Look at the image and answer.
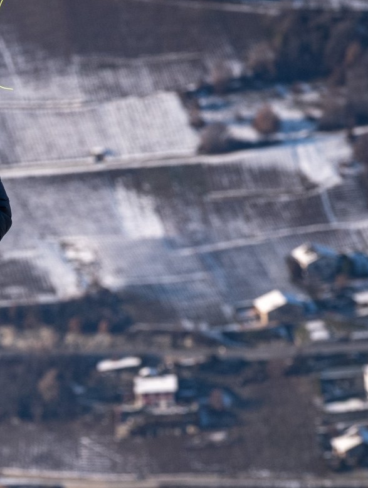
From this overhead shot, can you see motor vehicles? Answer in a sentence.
No, there is no motor vehicle in the image.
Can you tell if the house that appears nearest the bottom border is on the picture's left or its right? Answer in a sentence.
You can find the house that appears nearest the bottom border on the right side of the picture.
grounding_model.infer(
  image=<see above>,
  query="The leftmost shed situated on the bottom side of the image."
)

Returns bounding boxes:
[94,359,143,373]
